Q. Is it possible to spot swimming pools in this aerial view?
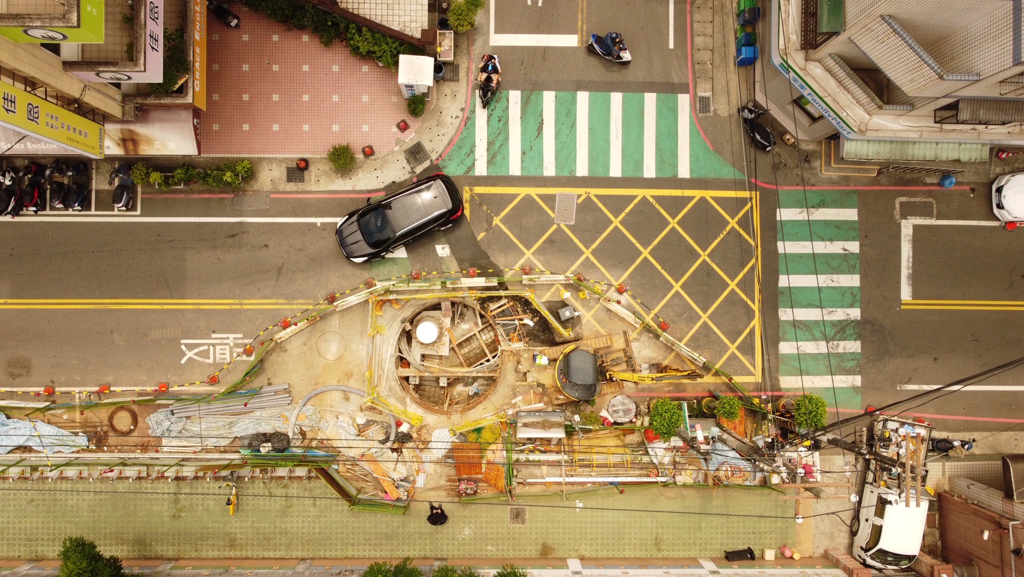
No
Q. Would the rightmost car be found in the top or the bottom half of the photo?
top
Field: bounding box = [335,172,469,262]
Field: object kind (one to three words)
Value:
car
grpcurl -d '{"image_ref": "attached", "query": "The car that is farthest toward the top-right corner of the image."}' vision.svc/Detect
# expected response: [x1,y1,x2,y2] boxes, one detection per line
[992,172,1024,224]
